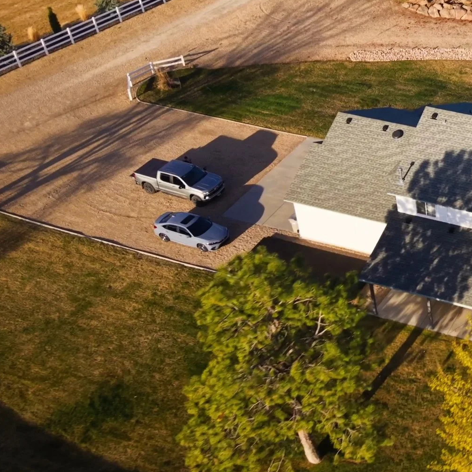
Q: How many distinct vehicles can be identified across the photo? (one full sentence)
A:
There are 2 vehicles in the image.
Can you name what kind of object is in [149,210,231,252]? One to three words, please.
car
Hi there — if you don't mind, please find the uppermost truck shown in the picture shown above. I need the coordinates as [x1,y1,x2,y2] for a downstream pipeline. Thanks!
[132,158,231,205]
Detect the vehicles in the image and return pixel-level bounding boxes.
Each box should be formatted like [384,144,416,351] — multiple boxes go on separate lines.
[149,210,231,252]
[132,158,231,205]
